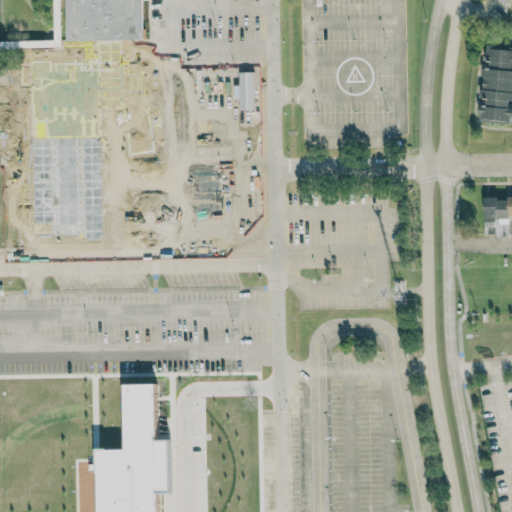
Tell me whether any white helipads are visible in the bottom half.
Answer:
No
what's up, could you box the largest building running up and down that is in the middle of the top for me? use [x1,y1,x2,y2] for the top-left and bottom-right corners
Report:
[240,72,256,110]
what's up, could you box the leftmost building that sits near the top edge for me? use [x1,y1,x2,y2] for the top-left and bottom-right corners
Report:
[66,0,144,42]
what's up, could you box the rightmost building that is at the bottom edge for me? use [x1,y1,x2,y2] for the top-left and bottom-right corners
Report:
[94,386,160,512]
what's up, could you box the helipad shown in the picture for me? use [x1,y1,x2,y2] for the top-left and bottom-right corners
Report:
[337,58,374,96]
